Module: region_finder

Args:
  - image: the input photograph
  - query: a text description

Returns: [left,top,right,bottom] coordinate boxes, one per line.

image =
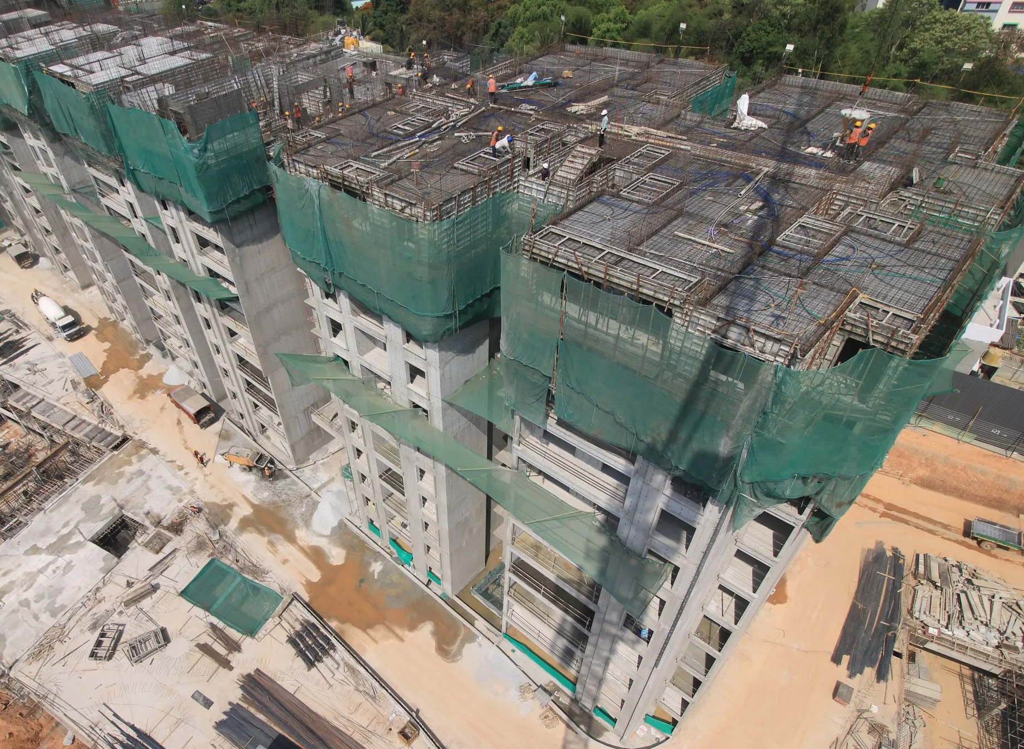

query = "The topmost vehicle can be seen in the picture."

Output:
[0,230,32,267]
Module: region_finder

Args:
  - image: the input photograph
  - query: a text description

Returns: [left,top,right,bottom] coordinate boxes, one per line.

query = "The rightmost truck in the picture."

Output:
[967,515,1024,554]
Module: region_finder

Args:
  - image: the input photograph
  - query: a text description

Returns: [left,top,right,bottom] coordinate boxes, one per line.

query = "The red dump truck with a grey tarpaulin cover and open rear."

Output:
[156,373,216,429]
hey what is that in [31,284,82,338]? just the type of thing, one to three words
truck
